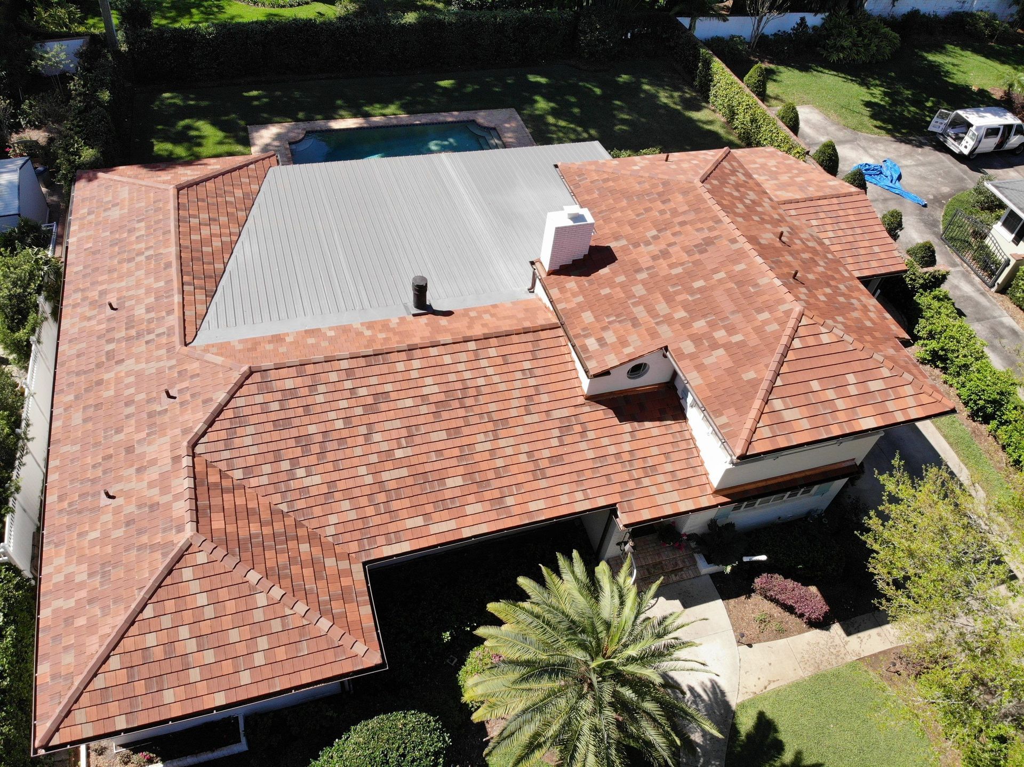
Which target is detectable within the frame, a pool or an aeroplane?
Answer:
pool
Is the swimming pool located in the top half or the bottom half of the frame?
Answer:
top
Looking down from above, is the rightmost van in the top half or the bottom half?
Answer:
top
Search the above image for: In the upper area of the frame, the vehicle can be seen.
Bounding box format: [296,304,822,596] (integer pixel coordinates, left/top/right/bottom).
[924,108,1024,160]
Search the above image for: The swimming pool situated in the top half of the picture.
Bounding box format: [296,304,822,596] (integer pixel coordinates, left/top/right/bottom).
[289,117,505,165]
